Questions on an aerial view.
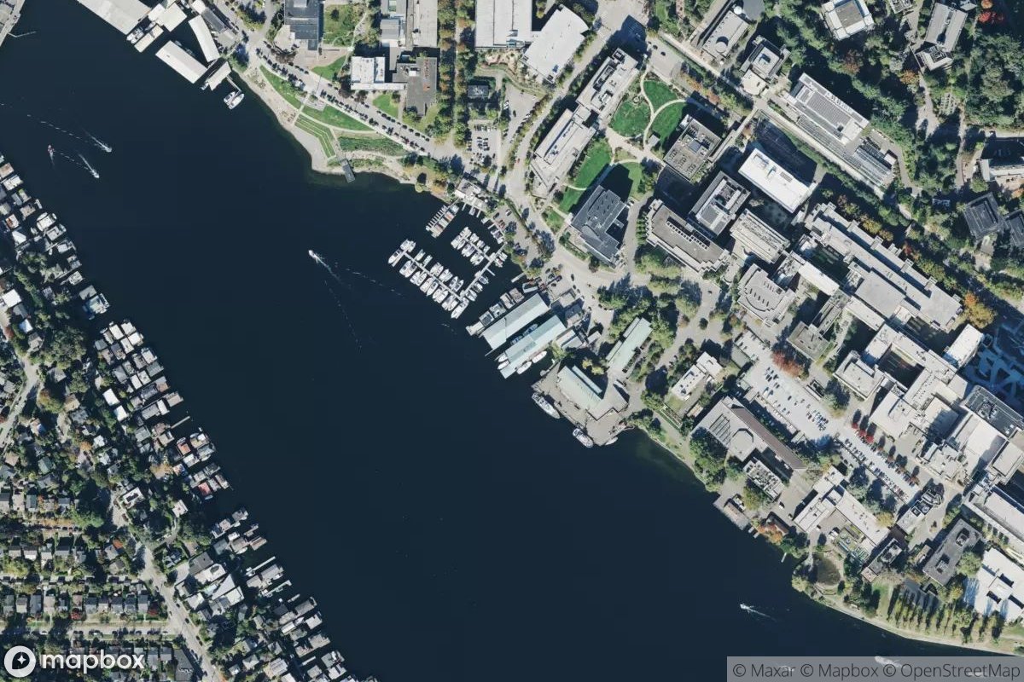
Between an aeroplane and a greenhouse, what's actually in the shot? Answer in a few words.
greenhouse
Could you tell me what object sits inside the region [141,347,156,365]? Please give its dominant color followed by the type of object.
white boat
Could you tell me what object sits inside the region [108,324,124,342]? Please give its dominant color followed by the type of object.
white boat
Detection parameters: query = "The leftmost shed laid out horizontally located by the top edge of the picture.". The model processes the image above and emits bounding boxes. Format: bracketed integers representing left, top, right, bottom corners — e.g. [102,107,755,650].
[76,0,151,36]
